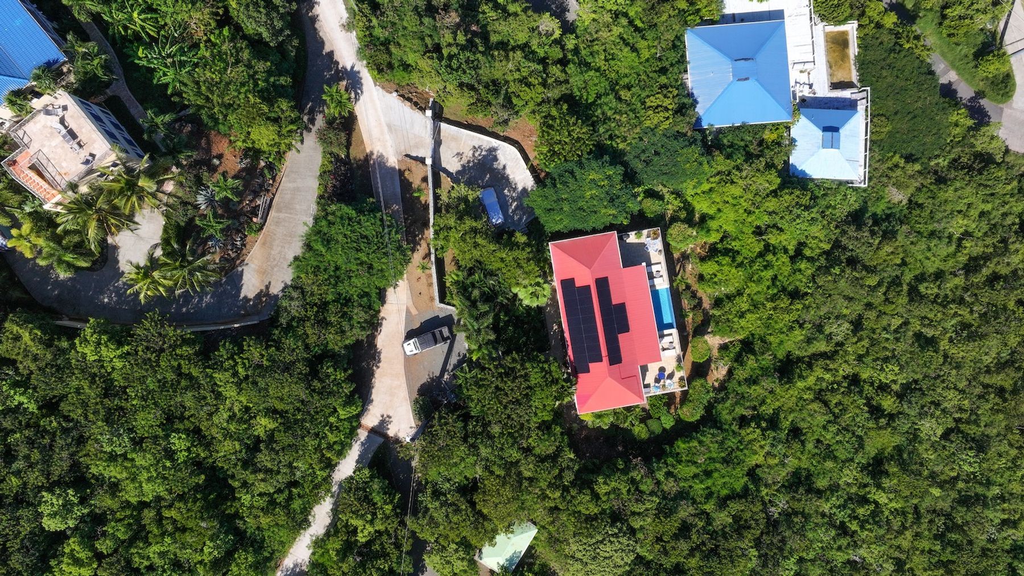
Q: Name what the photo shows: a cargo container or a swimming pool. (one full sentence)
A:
It is a swimming pool that can be seen here.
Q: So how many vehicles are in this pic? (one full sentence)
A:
In total, 2 vehicles can be seen.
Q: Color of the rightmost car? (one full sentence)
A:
The rightmost car is blue.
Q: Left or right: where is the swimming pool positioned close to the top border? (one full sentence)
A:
The swimming pool positioned close to the top border appears in the right half of the scene.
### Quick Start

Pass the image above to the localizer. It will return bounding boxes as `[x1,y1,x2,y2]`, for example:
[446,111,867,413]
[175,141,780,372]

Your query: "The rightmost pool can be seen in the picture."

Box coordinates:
[825,22,859,91]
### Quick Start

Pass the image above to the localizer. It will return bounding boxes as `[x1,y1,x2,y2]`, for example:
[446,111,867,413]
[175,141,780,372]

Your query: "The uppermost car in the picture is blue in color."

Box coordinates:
[480,186,505,227]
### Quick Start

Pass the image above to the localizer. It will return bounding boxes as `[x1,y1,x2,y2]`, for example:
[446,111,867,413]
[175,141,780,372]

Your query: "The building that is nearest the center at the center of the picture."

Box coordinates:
[549,231,662,415]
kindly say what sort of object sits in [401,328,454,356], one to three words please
truck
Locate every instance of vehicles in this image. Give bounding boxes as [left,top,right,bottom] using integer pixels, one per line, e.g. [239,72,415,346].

[480,186,505,227]
[401,328,454,356]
